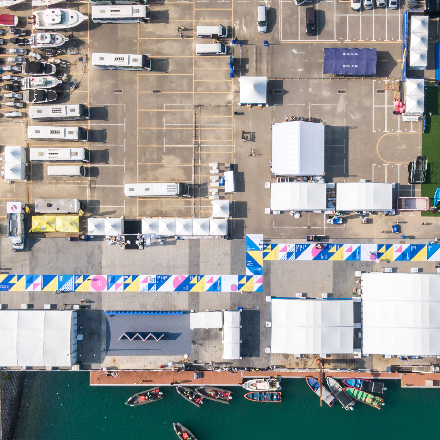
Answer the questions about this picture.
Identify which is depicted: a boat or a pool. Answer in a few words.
boat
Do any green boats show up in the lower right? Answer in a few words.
Yes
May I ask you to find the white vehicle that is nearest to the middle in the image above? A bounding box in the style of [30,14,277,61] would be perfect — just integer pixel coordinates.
[127,181,188,198]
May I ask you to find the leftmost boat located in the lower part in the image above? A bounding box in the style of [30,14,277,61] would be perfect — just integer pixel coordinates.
[125,386,164,406]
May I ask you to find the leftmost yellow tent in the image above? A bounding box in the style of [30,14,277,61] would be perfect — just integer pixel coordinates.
[32,215,58,233]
